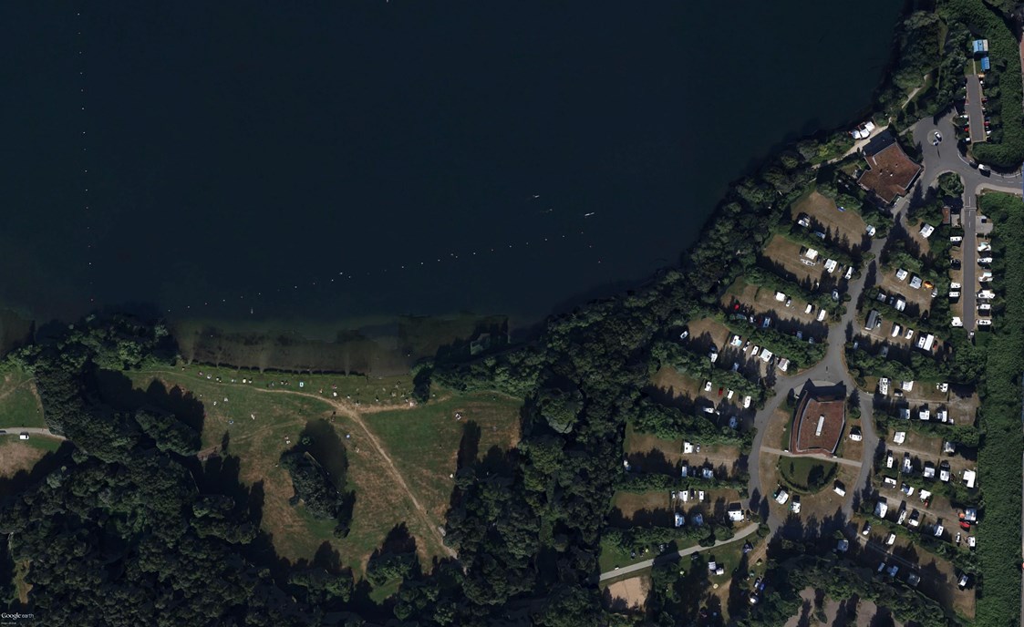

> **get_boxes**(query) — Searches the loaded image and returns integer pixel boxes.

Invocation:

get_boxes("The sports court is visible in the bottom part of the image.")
[608,576,651,612]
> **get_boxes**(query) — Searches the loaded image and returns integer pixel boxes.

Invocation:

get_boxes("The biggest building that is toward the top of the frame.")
[860,128,922,202]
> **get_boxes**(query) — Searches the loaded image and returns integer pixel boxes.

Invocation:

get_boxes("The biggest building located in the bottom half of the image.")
[790,390,846,457]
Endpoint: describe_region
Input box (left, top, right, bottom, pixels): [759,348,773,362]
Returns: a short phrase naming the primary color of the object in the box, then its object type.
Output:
white camper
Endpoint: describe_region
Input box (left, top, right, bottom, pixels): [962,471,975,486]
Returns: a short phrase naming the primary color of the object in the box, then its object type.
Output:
white vehicle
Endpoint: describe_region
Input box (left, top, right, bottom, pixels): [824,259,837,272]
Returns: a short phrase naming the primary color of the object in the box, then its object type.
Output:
white vehicle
